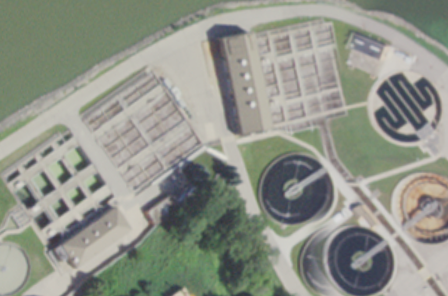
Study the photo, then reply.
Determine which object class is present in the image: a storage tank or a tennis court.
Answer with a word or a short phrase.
storage tank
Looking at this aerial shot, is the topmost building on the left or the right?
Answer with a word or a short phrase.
right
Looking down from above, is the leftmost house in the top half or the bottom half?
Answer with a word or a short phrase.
bottom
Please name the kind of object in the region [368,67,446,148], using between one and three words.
storage tank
